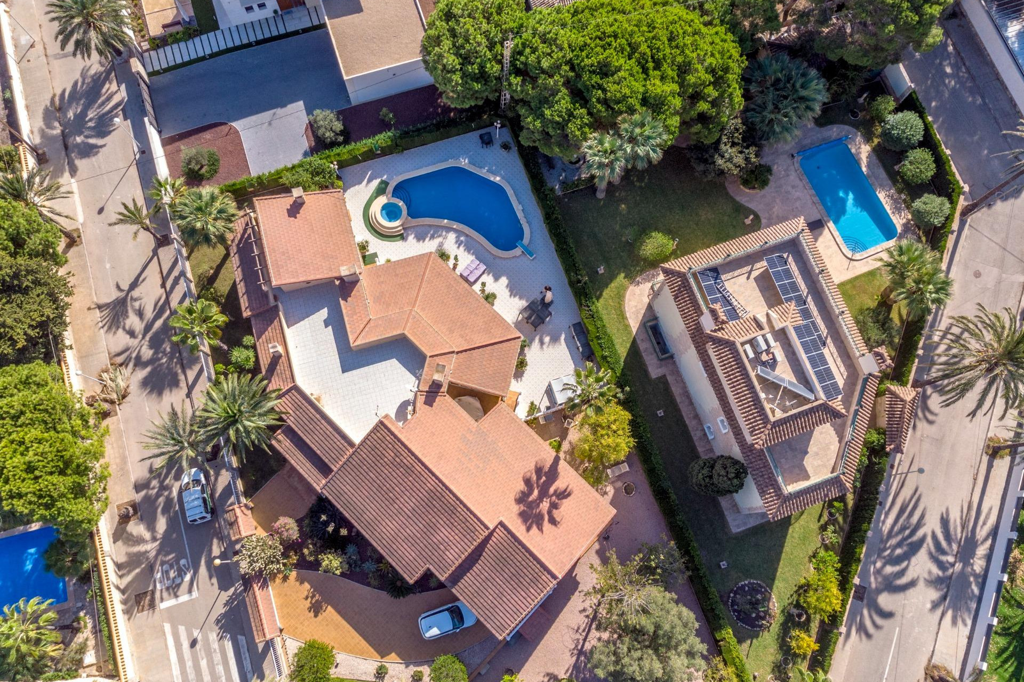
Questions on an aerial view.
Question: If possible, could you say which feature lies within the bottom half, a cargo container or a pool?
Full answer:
You can see a pool within the bottom half.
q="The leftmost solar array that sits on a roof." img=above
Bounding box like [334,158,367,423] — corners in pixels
[697,268,740,324]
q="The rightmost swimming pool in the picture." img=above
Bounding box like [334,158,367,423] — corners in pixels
[793,136,903,258]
